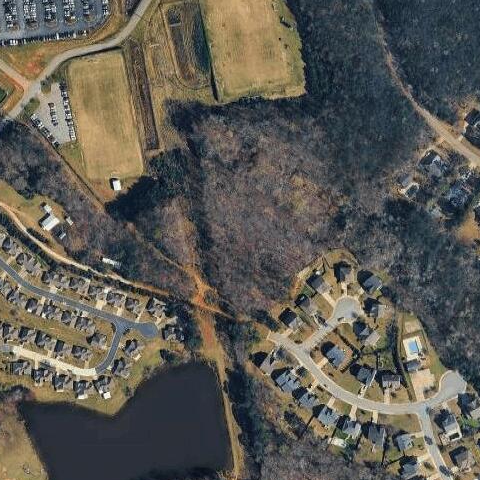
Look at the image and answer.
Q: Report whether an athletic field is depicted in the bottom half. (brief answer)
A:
No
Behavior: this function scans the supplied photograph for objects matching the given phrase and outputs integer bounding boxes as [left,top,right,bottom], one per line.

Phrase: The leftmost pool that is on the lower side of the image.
[402,336,423,362]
